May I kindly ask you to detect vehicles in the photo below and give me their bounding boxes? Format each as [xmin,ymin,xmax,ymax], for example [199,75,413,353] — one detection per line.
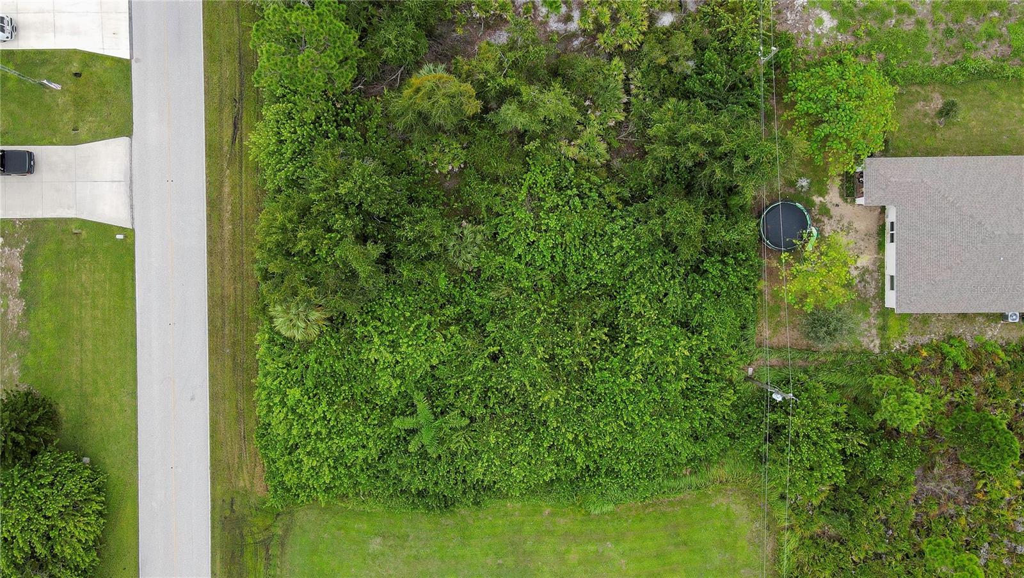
[0,15,19,42]
[0,149,39,175]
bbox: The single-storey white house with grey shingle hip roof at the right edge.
[854,157,1024,314]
